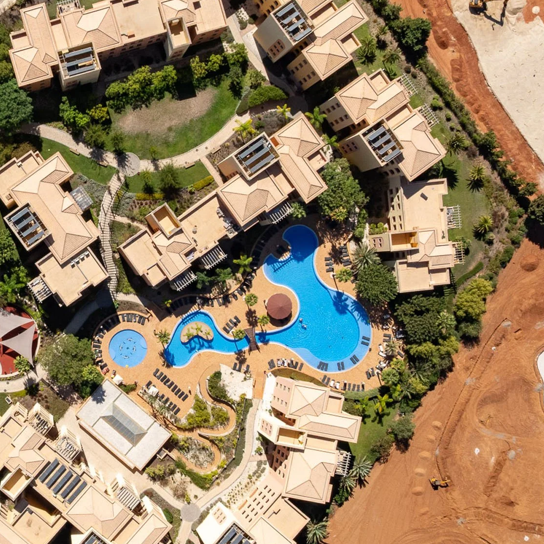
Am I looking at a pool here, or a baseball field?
pool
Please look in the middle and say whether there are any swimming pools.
Yes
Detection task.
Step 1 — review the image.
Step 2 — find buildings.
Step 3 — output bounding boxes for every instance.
[260,381,362,504]
[372,178,467,292]
[0,400,172,544]
[0,151,108,306]
[198,486,310,544]
[10,0,227,93]
[324,69,447,184]
[257,0,368,87]
[76,378,172,470]
[115,114,330,291]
